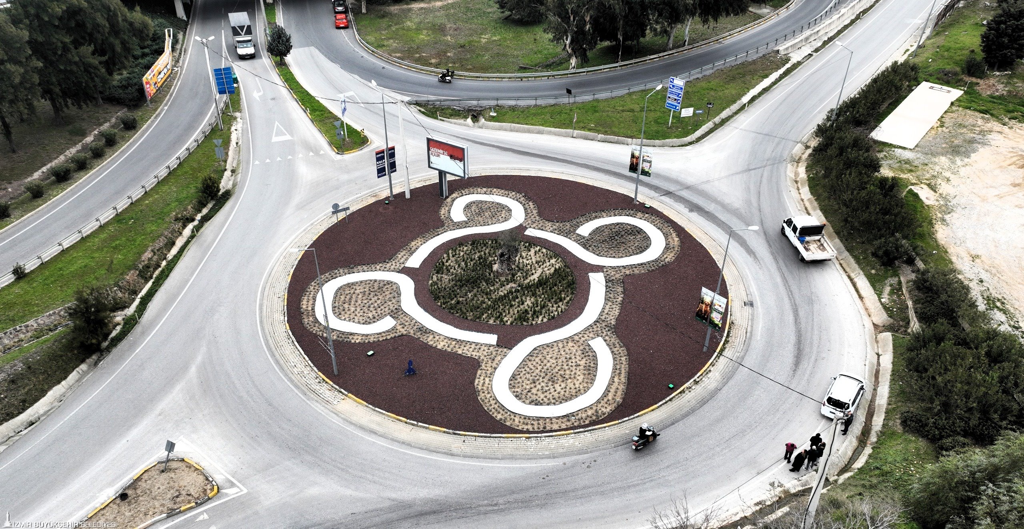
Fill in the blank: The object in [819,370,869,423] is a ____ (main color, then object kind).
white car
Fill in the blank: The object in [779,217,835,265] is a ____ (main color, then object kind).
white truck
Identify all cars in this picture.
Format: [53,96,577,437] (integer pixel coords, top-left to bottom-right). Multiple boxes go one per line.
[336,13,350,27]
[819,370,869,423]
[334,0,348,11]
